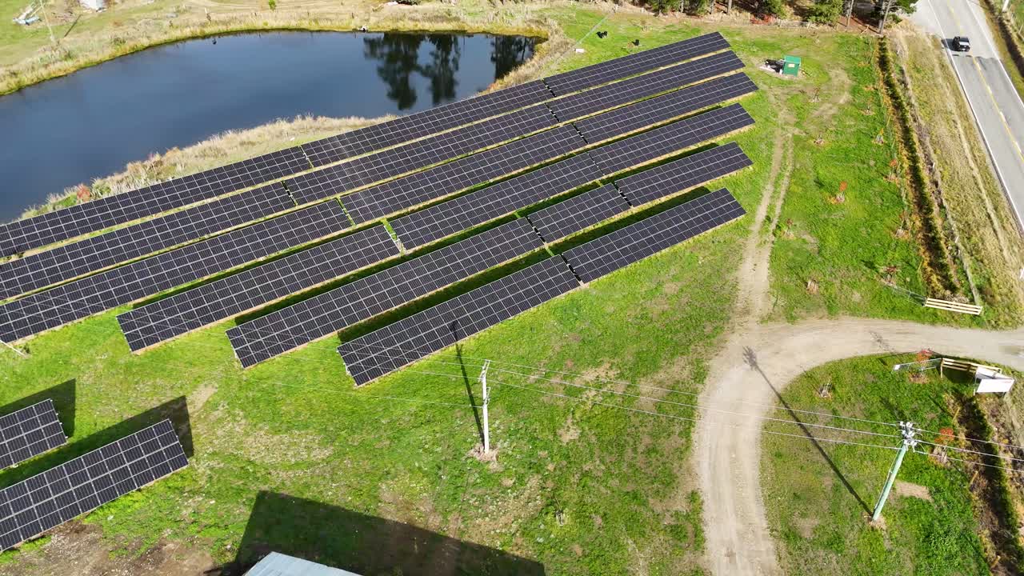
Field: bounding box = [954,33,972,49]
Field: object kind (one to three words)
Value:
car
